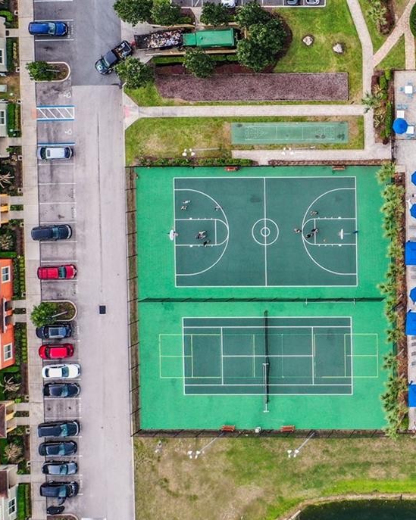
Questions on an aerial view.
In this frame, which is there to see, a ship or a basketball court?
basketball court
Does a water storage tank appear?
No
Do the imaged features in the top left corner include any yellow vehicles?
No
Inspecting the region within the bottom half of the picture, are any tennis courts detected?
Yes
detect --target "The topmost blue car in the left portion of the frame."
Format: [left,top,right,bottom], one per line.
[28,19,71,37]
